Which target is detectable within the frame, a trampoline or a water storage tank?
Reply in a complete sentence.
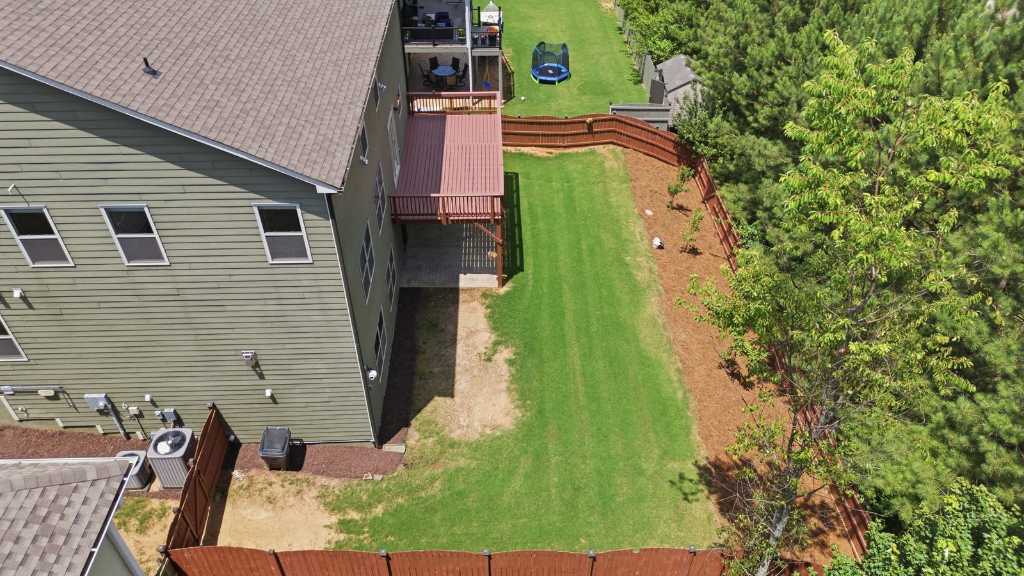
The one in the frame is a trampoline.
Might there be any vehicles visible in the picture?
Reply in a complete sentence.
No, this view has no vehicle in it.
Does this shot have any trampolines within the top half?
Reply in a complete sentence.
Yes, looking within the top half, one can make out a trampoline.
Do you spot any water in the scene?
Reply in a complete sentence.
No, no water is visible.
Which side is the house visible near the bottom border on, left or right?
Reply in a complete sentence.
The house visible near the bottom border sits on the left side.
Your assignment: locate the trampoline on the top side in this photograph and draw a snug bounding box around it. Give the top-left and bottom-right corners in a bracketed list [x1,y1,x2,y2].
[530,40,571,86]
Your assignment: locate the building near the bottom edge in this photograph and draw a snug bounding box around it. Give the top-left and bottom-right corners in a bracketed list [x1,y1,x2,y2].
[0,457,143,576]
